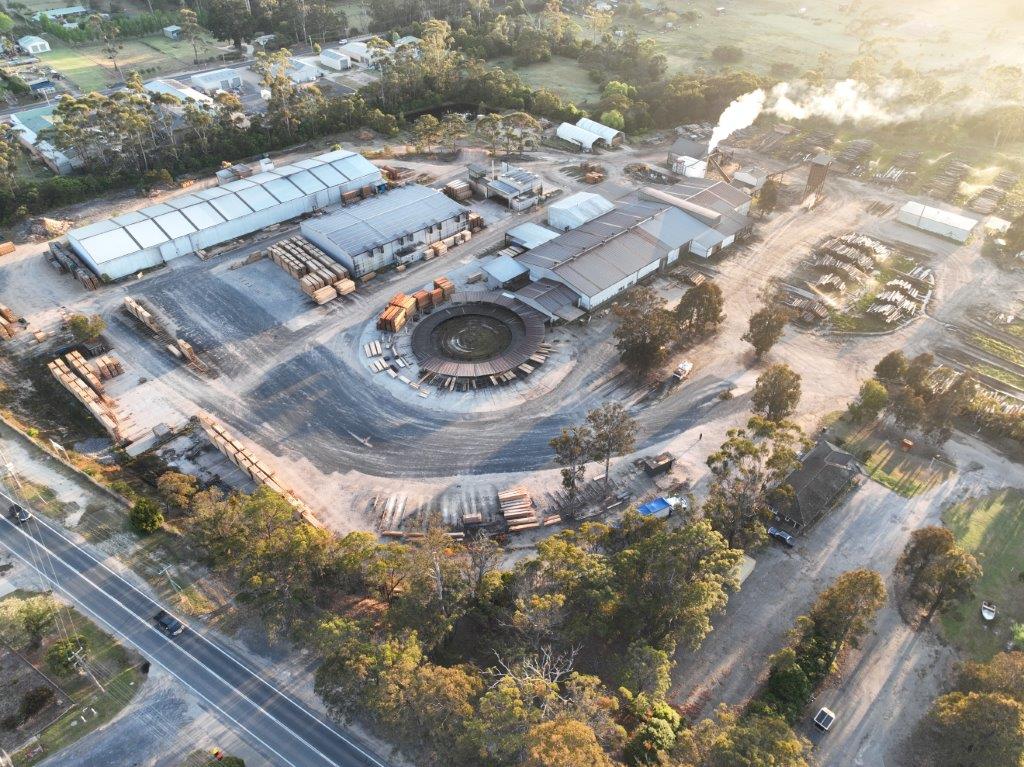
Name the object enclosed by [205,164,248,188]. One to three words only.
shed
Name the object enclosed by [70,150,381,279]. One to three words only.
shed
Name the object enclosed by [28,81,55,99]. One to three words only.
house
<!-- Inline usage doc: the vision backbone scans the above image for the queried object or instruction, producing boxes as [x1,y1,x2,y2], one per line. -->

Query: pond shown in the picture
[408,101,545,124]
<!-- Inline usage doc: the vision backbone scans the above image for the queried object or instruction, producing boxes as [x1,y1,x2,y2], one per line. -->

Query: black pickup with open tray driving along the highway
[150,609,184,637]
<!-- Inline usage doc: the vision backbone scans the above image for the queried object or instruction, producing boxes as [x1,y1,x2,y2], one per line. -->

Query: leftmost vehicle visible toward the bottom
[3,500,32,523]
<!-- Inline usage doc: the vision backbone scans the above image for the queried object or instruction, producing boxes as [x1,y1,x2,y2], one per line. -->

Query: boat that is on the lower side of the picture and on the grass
[980,597,995,619]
